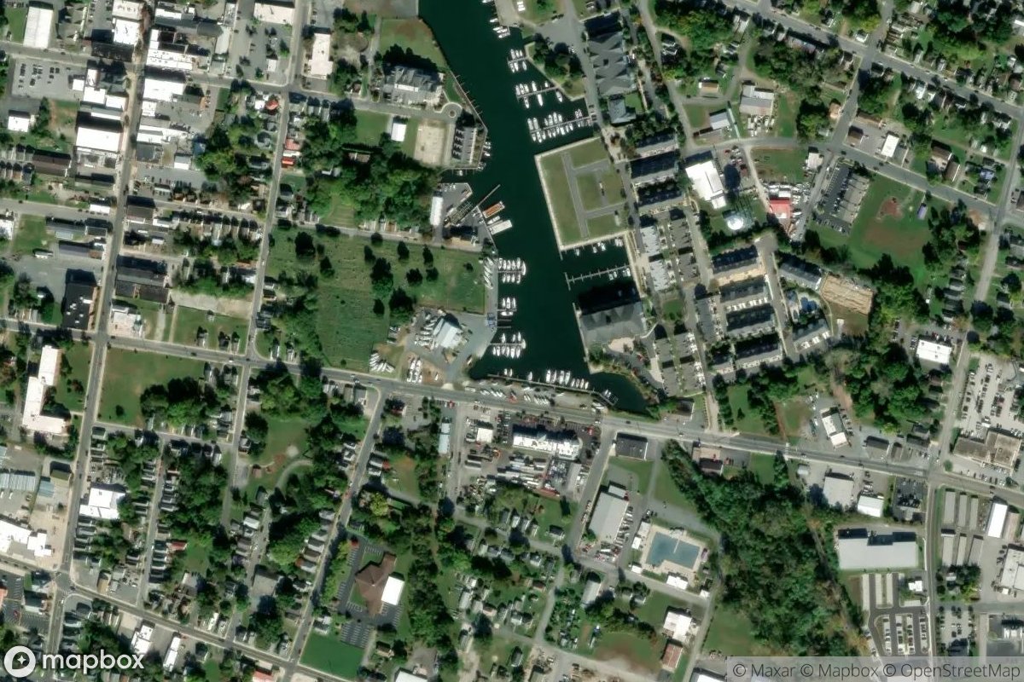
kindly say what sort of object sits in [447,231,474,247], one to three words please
building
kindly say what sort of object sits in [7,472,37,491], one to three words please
shed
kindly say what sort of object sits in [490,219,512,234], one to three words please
ship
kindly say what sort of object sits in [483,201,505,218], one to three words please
ship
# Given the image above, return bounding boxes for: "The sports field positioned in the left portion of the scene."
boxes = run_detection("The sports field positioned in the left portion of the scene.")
[299,632,364,679]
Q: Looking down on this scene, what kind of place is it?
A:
residential area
